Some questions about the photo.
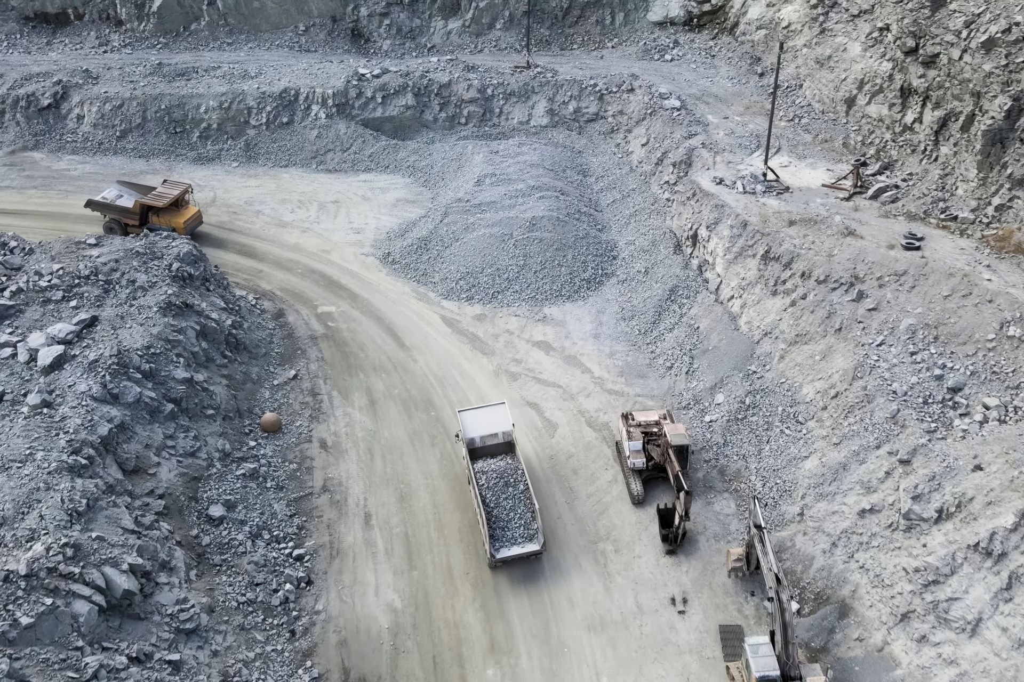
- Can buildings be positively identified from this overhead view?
No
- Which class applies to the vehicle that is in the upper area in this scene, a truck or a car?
truck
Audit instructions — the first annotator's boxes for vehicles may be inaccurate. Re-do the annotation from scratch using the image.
[720,494,828,682]
[447,404,546,572]
[77,179,207,246]
[612,413,697,544]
